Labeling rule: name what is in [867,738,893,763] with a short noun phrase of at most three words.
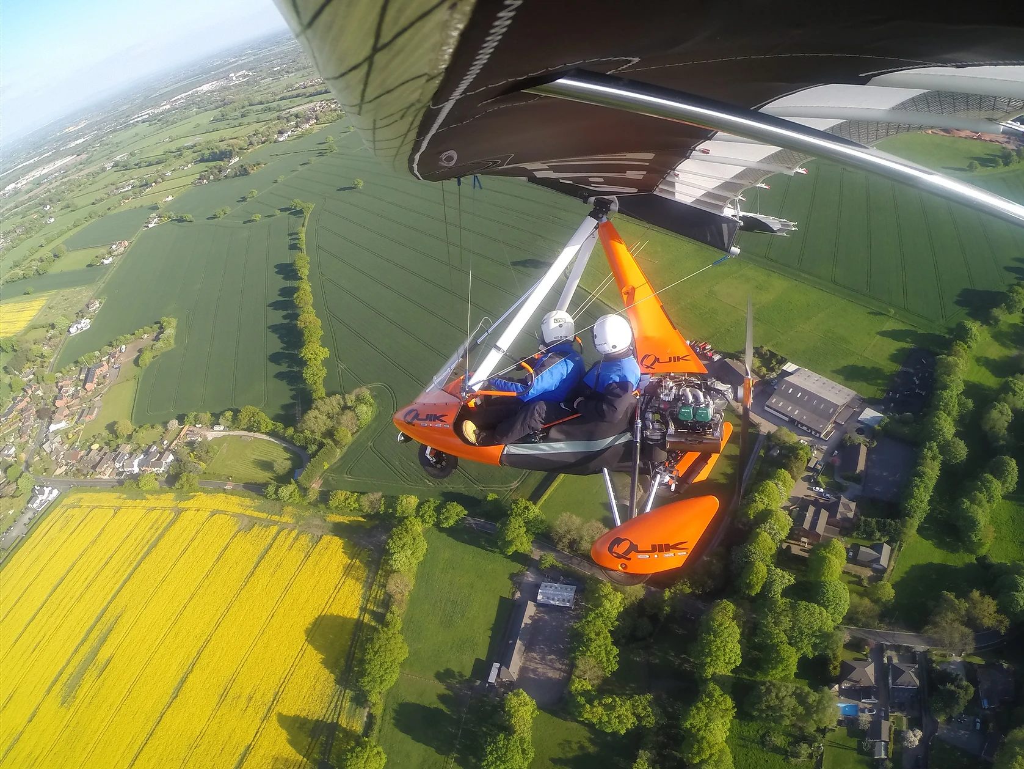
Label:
shed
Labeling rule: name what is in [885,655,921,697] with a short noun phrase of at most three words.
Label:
house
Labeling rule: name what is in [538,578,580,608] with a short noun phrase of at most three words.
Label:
barn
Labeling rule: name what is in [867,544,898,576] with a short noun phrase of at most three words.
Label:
building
